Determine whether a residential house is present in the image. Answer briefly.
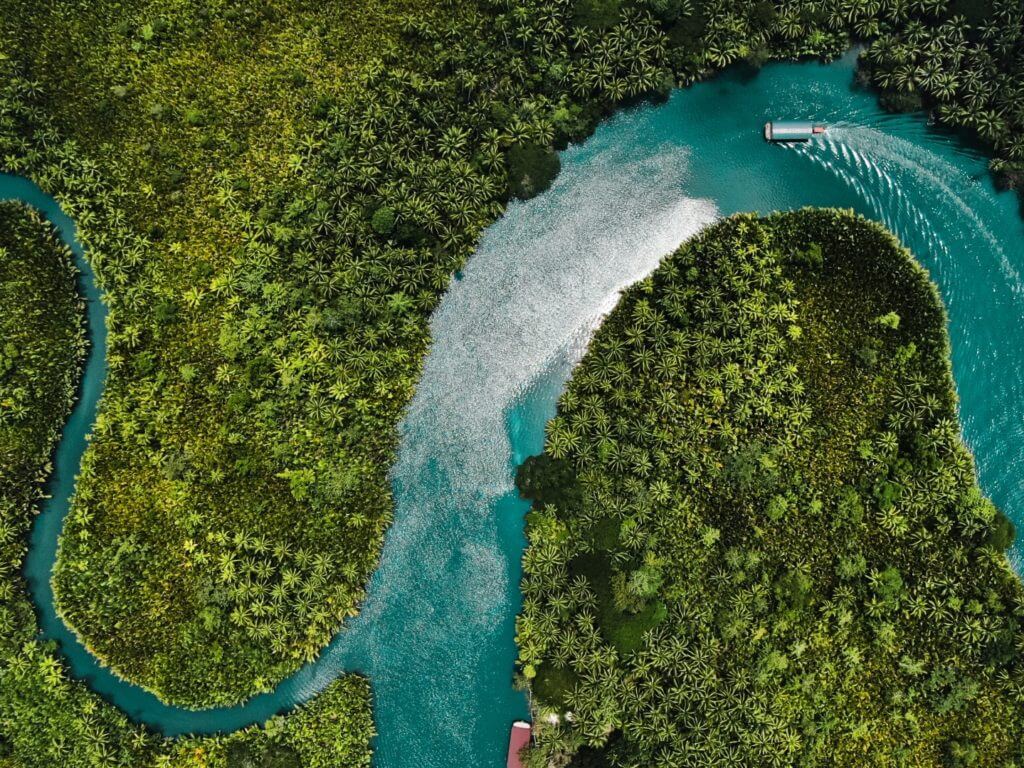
No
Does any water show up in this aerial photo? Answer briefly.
Yes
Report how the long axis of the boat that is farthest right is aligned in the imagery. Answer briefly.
from side to side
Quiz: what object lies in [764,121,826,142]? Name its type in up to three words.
boat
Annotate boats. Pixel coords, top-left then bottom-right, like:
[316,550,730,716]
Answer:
[764,121,826,142]
[505,719,529,768]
